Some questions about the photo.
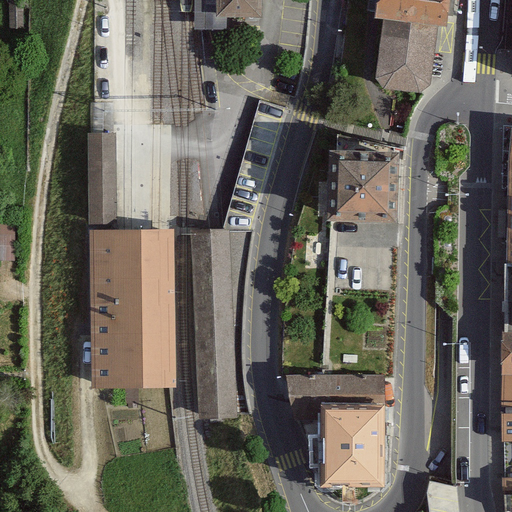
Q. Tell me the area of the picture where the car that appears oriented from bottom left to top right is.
bottom right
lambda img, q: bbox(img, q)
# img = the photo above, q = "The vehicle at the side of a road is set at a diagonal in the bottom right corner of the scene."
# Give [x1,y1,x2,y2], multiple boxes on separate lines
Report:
[426,450,446,471]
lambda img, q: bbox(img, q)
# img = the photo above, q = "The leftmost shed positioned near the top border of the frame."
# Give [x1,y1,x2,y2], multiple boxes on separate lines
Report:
[8,3,24,28]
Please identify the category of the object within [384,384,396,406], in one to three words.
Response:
vehicle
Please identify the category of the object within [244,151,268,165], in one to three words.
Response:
car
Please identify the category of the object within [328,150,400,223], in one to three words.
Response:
house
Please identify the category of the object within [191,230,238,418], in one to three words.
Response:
shed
